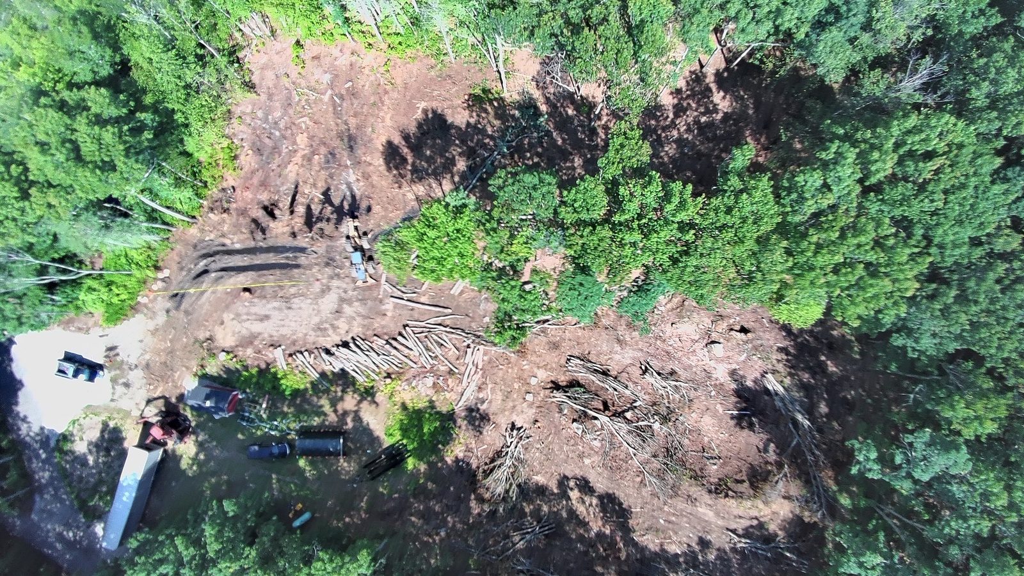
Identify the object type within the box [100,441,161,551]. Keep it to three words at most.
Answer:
trailer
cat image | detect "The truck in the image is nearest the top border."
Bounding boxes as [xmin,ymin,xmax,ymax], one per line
[49,357,102,382]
